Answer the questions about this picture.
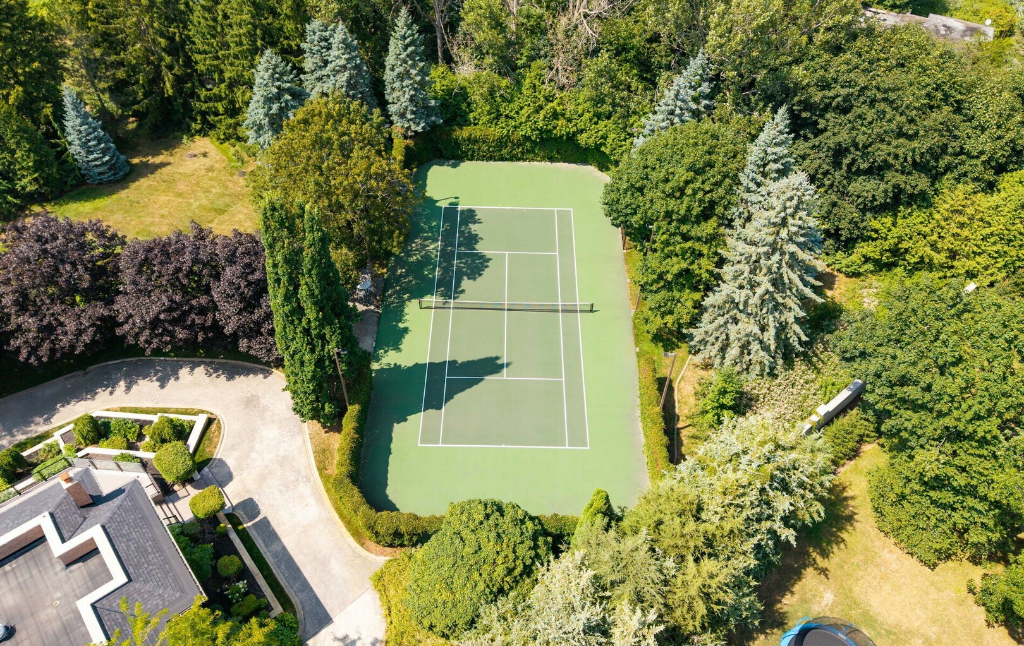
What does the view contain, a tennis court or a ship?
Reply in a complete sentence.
Visible in the photo is a tennis court.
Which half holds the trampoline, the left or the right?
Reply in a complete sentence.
The trampoline sits on the right side.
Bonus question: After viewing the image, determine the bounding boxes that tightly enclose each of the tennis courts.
[363,160,648,528]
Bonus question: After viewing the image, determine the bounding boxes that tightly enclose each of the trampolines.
[780,609,870,646]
